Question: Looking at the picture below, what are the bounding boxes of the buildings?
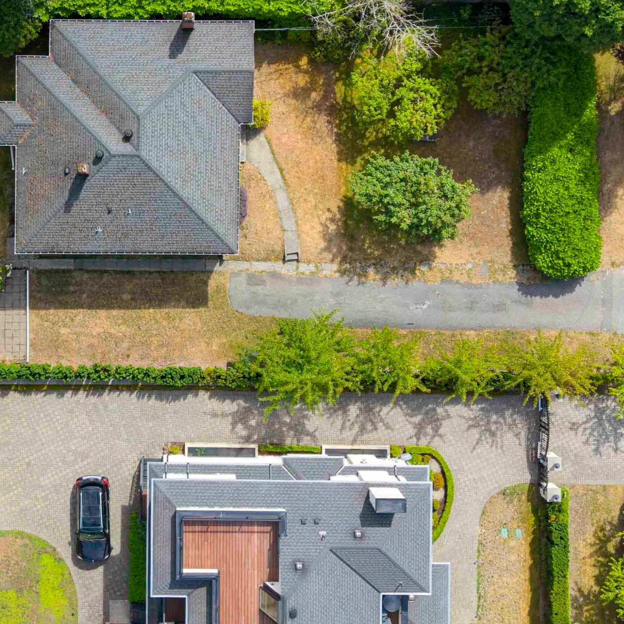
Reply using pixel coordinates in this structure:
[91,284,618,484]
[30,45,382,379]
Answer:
[140,443,454,624]
[0,9,258,257]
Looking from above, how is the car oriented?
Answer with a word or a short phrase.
up and down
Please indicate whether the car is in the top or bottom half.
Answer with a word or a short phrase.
bottom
